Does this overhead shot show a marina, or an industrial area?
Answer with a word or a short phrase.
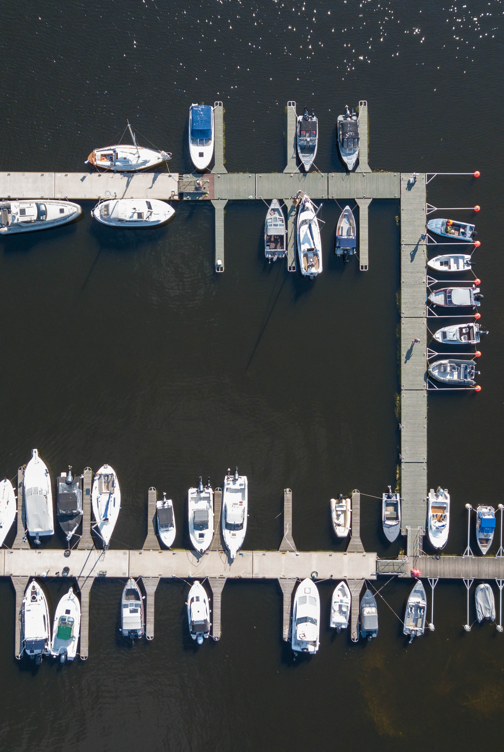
marina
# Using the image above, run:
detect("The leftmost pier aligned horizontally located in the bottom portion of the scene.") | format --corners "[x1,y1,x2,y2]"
[0,548,378,580]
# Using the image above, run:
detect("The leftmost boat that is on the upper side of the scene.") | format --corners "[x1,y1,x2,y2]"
[0,197,95,232]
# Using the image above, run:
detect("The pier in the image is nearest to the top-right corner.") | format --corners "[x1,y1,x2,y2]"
[355,101,371,172]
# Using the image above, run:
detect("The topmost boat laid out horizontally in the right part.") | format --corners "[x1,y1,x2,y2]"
[425,219,478,242]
